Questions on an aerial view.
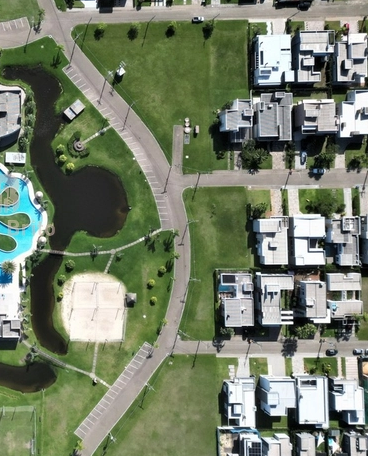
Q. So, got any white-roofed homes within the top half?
Yes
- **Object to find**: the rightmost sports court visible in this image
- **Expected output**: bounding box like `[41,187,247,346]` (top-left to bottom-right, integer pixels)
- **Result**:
[62,273,126,342]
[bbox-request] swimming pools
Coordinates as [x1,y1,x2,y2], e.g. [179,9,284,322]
[0,169,44,283]
[219,283,232,292]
